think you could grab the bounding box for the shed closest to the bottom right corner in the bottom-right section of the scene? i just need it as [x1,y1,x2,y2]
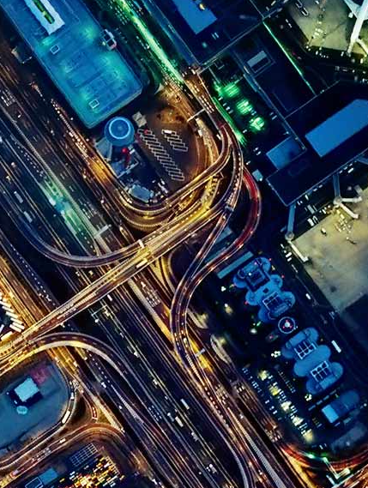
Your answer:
[332,423,368,450]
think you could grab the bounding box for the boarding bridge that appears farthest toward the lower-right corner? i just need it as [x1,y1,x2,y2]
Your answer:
[290,239,311,265]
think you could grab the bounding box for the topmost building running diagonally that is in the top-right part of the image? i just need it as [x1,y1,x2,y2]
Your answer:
[230,22,316,129]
